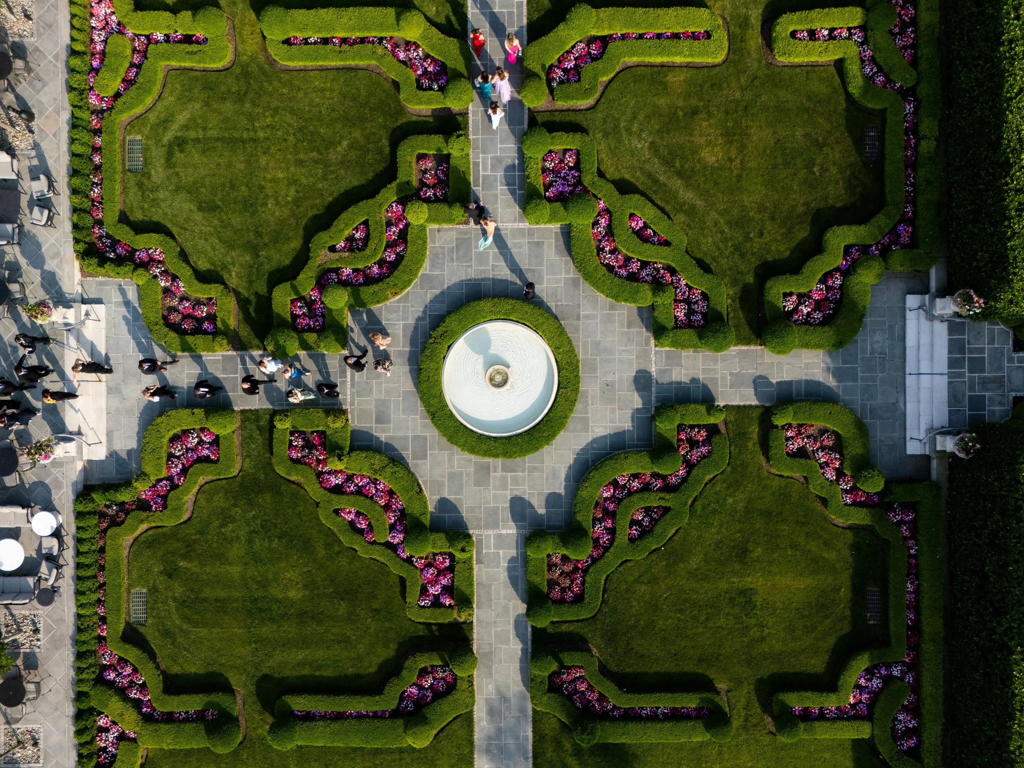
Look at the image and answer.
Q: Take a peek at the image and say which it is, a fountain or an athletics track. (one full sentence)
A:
It is a fountain that can be seen here.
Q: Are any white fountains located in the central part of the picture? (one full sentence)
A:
Yes, in the central part of the picture there is a white fountain.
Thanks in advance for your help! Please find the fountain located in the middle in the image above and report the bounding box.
[442,320,558,436]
